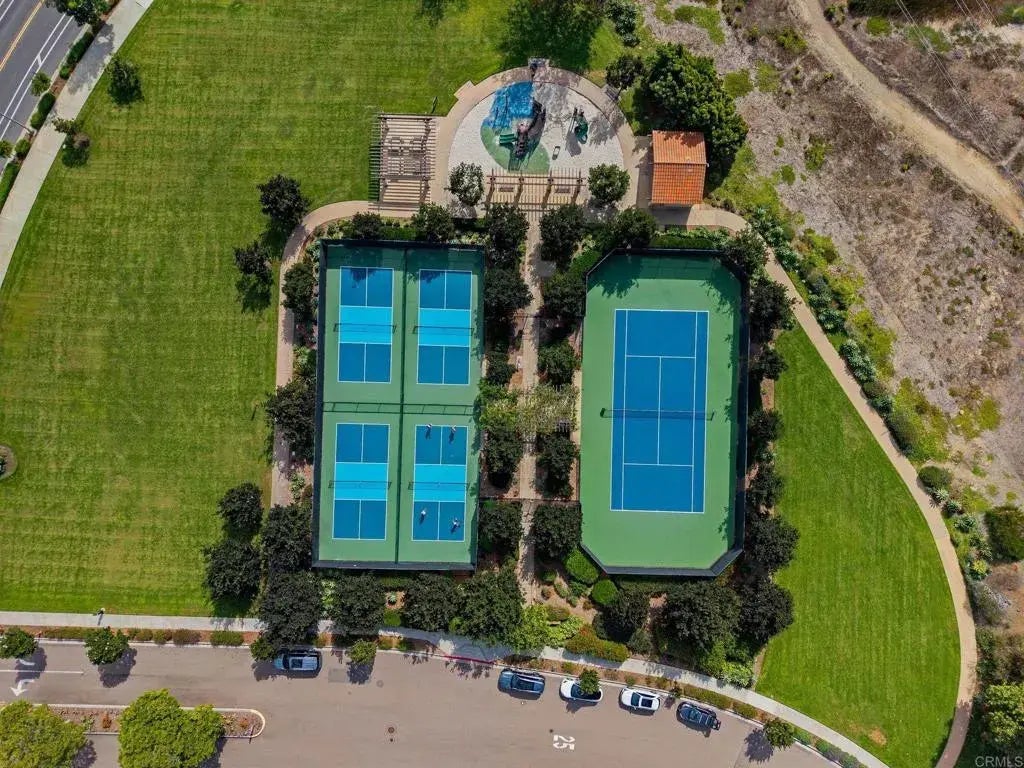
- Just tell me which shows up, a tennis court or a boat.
tennis court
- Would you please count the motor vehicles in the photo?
5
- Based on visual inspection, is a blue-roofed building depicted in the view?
No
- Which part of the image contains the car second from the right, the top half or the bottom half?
bottom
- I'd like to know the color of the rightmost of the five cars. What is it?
blue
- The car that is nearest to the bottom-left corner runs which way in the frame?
from side to side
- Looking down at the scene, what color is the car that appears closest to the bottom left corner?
blue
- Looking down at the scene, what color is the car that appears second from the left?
blue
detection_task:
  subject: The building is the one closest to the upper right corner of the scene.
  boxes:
[649,131,708,205]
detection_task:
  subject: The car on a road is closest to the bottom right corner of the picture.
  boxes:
[676,700,721,728]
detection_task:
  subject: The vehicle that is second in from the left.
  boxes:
[499,668,544,694]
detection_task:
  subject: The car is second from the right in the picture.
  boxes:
[618,687,660,711]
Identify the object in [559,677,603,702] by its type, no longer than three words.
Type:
car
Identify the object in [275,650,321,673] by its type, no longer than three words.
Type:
car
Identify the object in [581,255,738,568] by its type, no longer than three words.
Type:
tennis court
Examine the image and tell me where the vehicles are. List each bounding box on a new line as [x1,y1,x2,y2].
[275,650,321,673]
[676,700,721,728]
[618,687,660,711]
[559,677,603,702]
[499,668,544,694]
